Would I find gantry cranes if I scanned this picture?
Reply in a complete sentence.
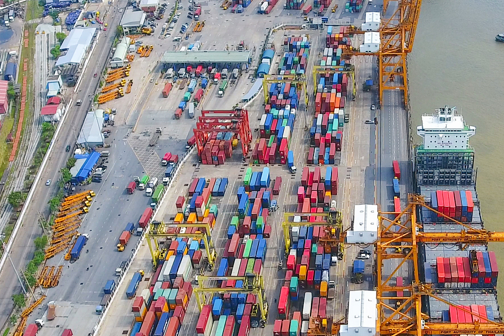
Yes, a gantry crane appears in the view.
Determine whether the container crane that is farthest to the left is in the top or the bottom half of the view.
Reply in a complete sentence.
The container crane that is farthest to the left sits in the bottom half of the picture.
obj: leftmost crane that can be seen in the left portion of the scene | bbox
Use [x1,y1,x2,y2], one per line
[146,217,215,272]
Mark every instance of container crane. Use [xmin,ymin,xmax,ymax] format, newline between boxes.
[279,282,504,336]
[201,105,249,149]
[146,217,215,272]
[195,268,267,324]
[295,193,504,322]
[263,70,310,106]
[194,118,246,163]
[312,60,357,99]
[331,0,415,82]
[282,208,344,261]
[327,0,422,110]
